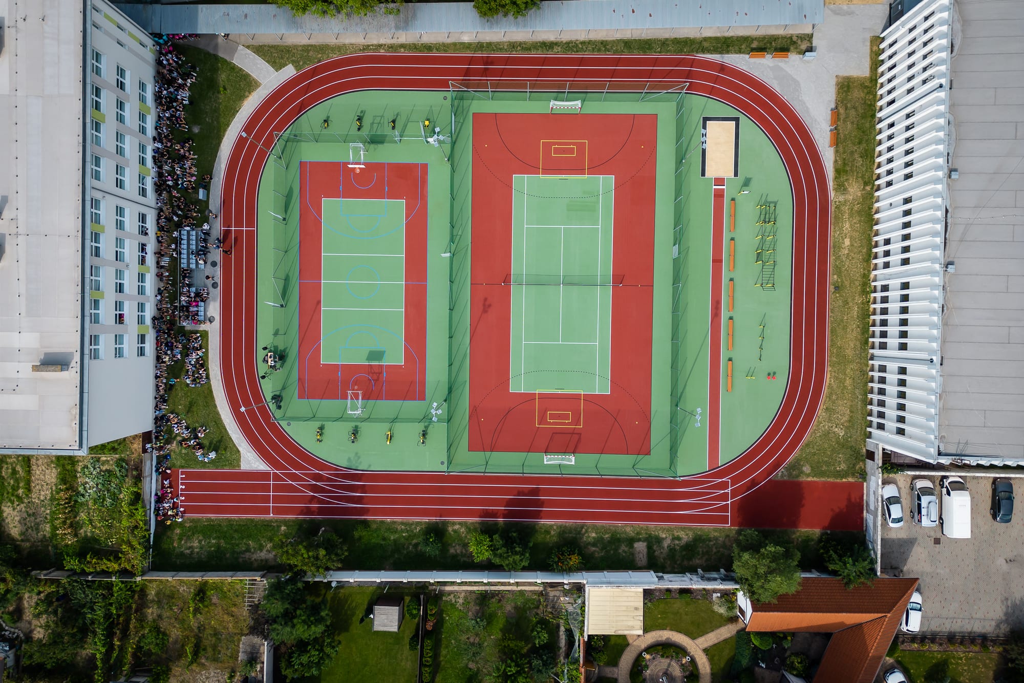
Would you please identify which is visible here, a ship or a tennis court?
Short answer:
tennis court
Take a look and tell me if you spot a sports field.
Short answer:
Yes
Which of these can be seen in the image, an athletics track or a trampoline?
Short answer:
athletics track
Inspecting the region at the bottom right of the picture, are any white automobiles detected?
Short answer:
Yes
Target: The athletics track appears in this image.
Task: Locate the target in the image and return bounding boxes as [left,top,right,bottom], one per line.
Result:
[180,52,832,526]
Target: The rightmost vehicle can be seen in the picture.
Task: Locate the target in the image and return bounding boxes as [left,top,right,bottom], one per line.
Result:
[988,481,1013,521]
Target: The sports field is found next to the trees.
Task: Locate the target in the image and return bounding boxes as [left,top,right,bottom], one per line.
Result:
[259,92,792,475]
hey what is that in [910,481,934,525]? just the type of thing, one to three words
car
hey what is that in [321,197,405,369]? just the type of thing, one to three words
sports court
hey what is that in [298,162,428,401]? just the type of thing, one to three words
basketball court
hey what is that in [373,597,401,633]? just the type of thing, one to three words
shed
